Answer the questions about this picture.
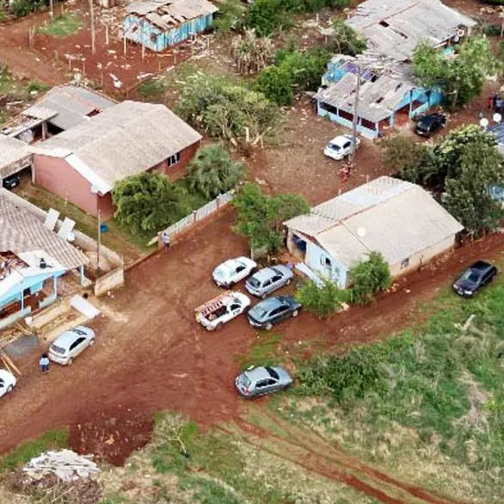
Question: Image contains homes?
Yes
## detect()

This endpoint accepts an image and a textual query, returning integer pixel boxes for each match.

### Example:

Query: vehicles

[42,324,102,366]
[0,367,20,395]
[4,169,30,192]
[243,263,298,298]
[208,253,263,288]
[321,129,365,159]
[230,362,297,399]
[242,294,308,330]
[451,257,504,297]
[192,288,254,328]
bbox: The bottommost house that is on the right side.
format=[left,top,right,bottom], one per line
[288,182,459,291]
